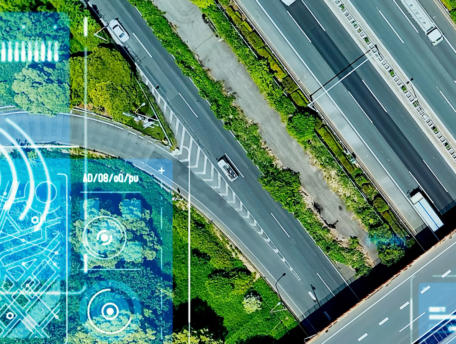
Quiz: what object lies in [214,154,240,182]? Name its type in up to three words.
truck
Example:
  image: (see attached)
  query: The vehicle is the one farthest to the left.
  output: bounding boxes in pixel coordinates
[109,17,132,44]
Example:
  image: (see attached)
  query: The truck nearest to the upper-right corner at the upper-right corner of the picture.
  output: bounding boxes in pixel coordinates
[400,0,448,50]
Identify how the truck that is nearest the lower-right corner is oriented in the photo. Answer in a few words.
diagonally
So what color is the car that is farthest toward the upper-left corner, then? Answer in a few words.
white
